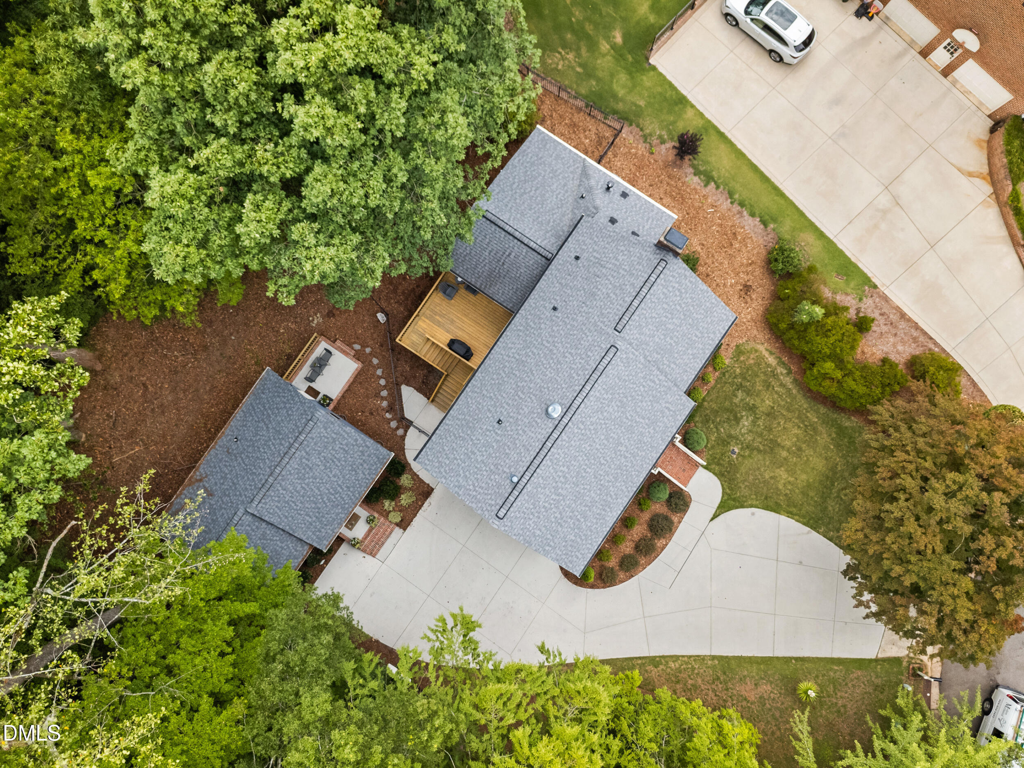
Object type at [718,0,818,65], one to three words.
car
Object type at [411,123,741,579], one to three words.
house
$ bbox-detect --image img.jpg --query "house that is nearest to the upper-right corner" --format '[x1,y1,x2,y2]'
[857,0,1024,122]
